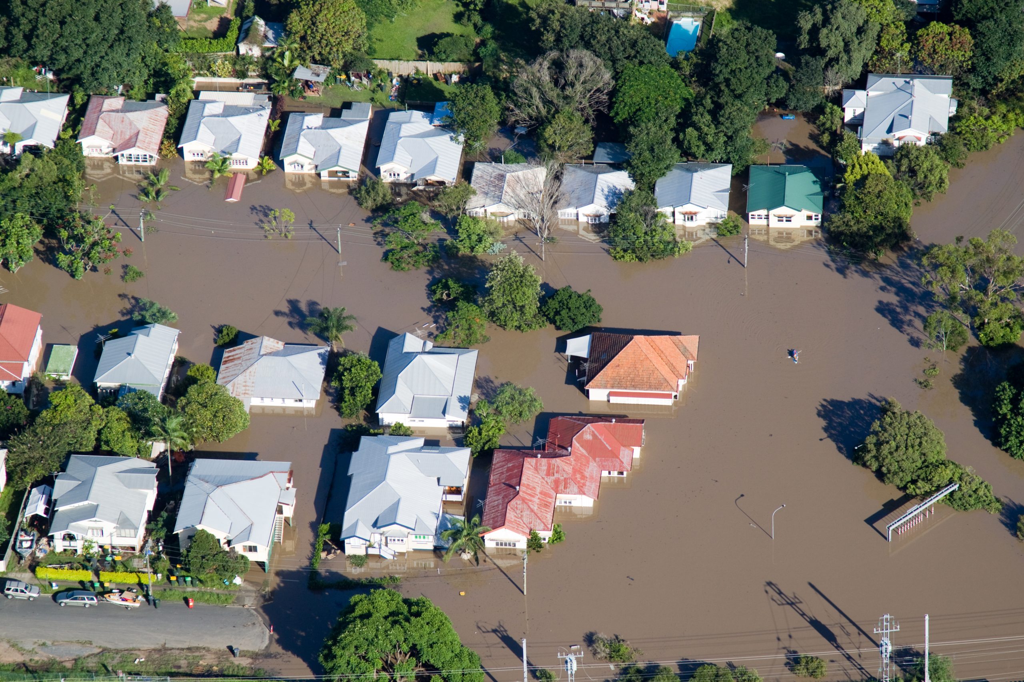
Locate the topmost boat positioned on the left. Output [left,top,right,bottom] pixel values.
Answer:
[19,528,33,556]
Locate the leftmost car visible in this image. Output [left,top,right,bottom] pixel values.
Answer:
[2,579,41,601]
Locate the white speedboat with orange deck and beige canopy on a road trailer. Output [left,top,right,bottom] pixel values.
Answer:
[103,588,143,606]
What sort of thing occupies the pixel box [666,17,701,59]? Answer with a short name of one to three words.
swimming pool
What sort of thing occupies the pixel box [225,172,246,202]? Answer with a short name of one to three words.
shed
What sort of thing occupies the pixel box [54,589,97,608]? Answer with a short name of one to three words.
car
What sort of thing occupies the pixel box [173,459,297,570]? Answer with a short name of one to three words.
house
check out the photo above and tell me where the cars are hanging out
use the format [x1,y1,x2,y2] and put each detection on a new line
[2,579,41,601]
[54,589,97,608]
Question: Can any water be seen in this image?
Yes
